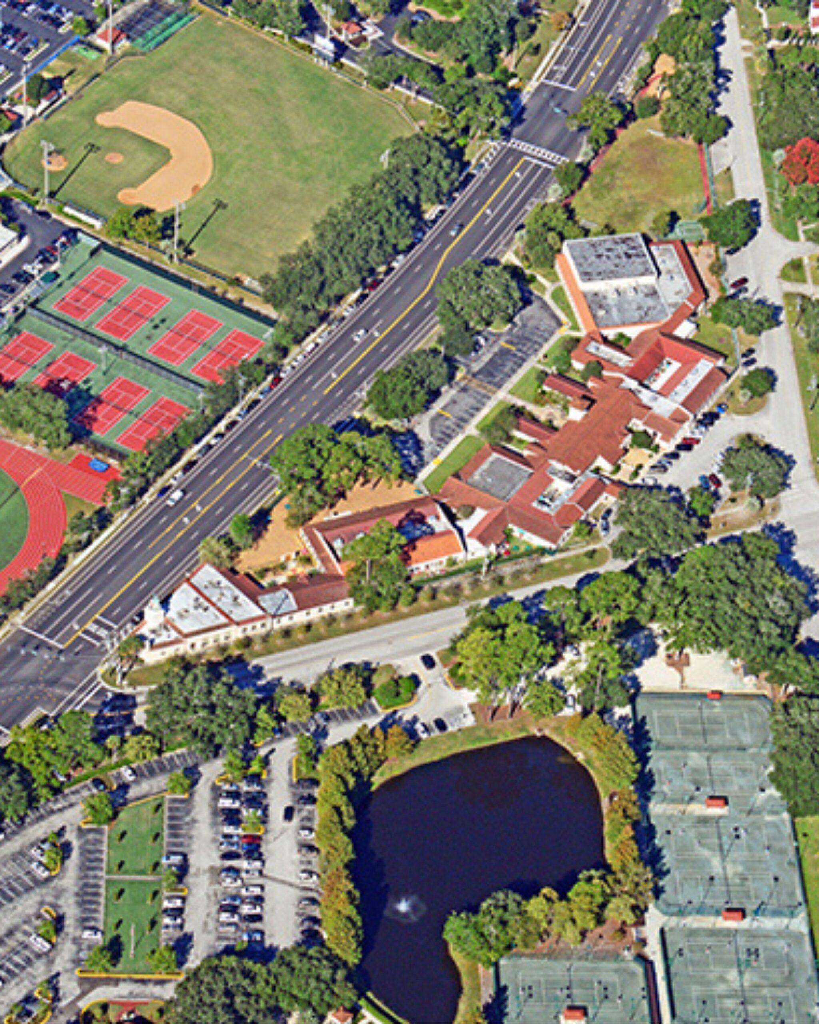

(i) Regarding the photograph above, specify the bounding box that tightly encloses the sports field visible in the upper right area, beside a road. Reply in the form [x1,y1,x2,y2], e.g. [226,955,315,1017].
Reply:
[569,118,711,231]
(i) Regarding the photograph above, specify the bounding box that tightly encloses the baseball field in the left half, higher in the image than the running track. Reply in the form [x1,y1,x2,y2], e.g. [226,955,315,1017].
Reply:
[3,4,420,285]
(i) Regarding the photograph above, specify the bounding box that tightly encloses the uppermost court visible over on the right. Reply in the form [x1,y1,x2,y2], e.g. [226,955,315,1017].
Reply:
[667,220,704,240]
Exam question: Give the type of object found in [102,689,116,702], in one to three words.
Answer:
vehicle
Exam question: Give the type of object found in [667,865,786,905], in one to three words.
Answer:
tennis court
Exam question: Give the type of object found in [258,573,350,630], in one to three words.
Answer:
building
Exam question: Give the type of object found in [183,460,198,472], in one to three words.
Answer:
vehicle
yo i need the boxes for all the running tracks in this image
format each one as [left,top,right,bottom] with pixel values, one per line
[0,439,114,595]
